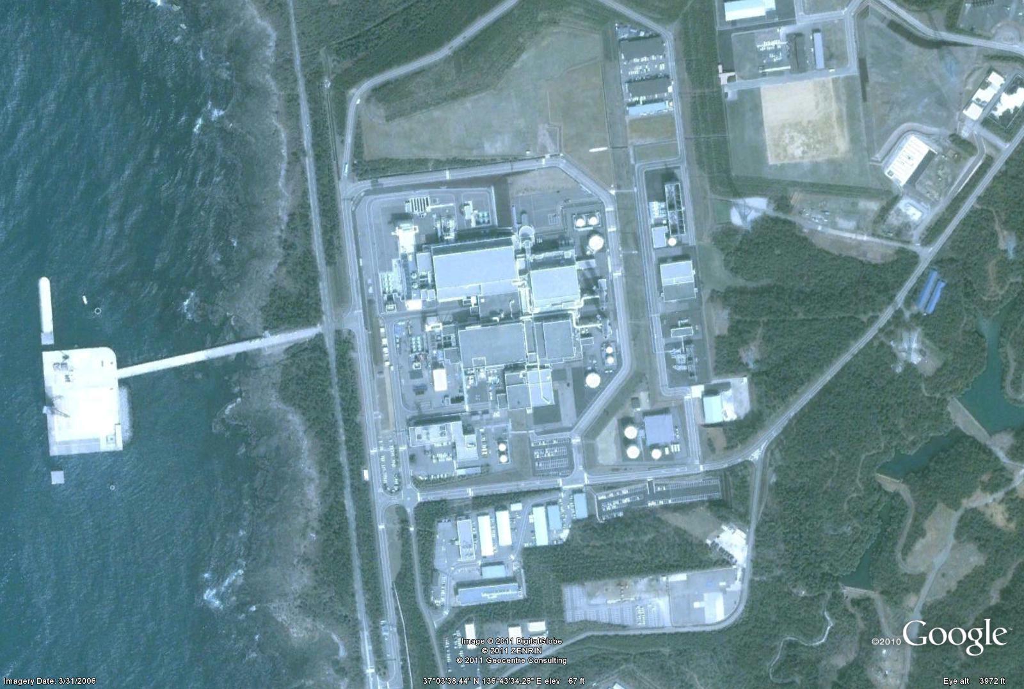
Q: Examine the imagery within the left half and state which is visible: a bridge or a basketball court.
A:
bridge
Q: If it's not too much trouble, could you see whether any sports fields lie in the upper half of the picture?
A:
Yes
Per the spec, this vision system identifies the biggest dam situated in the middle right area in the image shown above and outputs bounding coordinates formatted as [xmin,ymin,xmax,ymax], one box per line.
[950,395,990,439]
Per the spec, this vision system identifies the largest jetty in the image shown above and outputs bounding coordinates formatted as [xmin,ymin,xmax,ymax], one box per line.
[42,347,123,456]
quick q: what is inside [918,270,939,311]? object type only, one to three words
shed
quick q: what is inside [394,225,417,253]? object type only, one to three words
house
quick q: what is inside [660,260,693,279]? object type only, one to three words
building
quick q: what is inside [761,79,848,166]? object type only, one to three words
sports field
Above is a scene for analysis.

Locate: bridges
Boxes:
[117,325,320,379]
